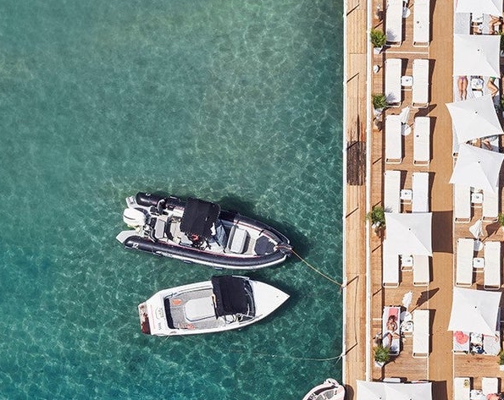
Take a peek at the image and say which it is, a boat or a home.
boat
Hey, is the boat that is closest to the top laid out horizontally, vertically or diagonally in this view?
horizontally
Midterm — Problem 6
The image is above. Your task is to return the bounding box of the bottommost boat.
[141,271,290,336]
